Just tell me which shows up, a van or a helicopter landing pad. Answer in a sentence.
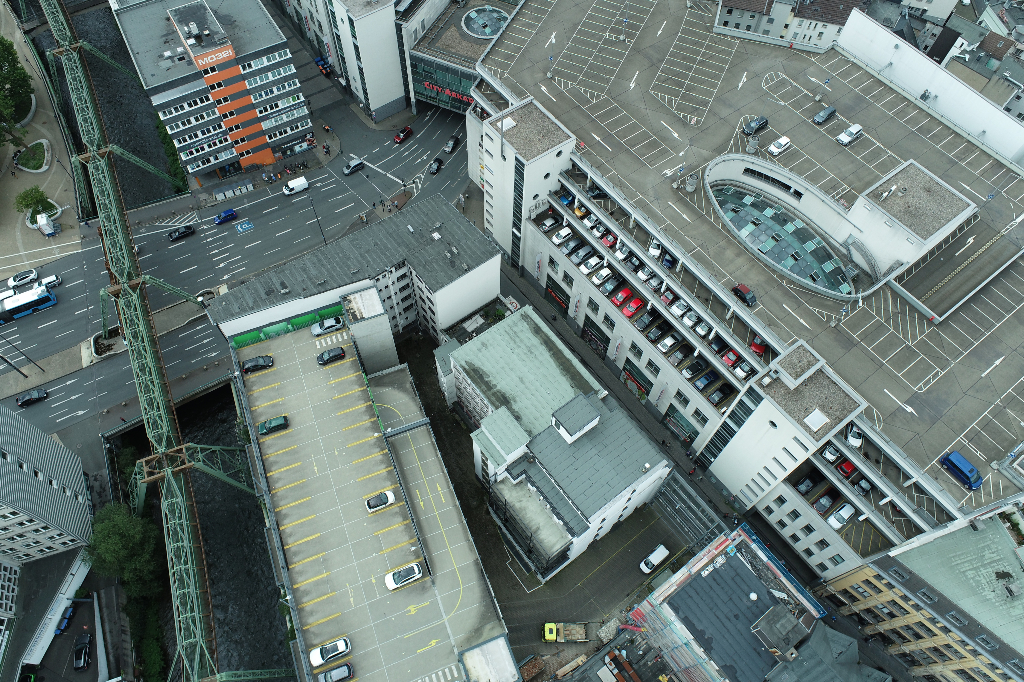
Of the two, only a van appears.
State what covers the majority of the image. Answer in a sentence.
The largest share of the image is taken up by buildings.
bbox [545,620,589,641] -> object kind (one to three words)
truck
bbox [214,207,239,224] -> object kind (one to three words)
car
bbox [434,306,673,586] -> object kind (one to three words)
building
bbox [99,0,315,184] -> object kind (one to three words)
building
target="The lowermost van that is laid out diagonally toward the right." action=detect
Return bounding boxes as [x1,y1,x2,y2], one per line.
[638,542,674,575]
